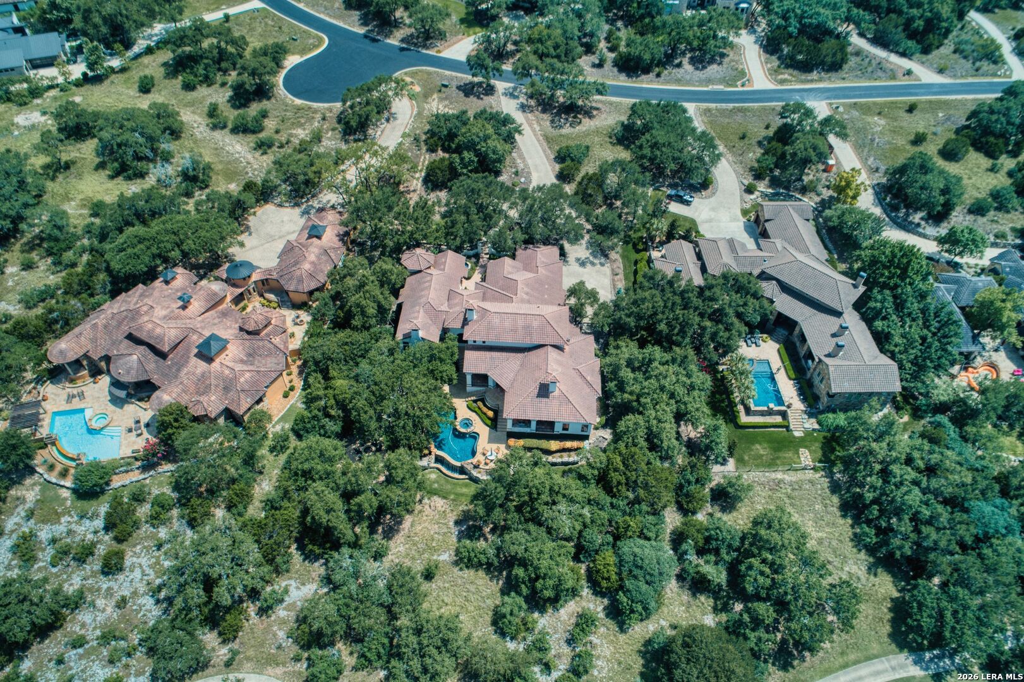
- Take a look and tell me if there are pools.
Yes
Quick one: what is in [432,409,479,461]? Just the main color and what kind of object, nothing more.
blue swimming pool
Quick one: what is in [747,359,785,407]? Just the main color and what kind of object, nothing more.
blue swimming pool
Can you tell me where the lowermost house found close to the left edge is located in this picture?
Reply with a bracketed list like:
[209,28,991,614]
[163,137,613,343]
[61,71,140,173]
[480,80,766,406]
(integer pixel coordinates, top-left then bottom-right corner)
[47,207,350,421]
